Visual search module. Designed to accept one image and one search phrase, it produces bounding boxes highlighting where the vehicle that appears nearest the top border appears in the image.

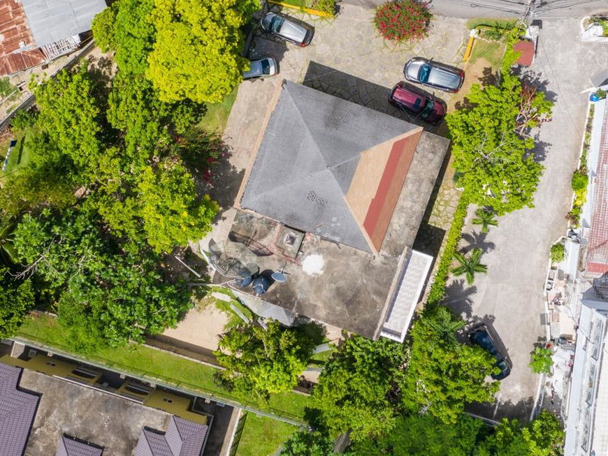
[260,12,315,48]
